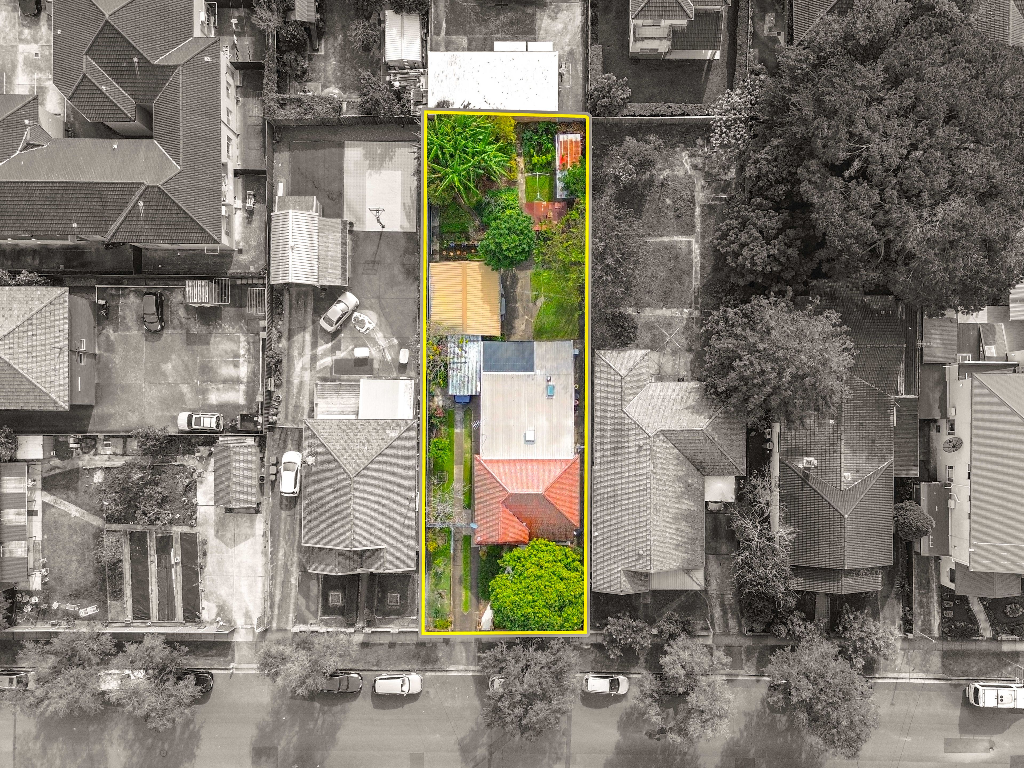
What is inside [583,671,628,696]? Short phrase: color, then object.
white car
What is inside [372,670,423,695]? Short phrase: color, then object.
white car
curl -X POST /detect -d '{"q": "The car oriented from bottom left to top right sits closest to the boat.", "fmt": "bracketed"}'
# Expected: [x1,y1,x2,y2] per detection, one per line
[316,288,361,338]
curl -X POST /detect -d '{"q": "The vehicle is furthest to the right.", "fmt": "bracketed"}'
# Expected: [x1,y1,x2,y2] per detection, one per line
[969,681,1024,711]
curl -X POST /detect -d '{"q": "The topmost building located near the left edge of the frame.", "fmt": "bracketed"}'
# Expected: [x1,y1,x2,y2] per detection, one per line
[0,0,242,250]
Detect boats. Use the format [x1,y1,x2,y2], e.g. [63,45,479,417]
[352,313,374,334]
